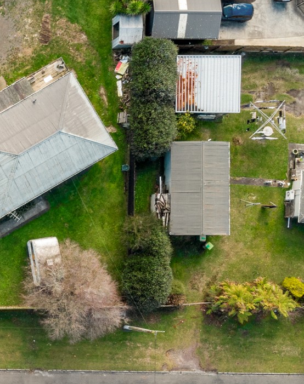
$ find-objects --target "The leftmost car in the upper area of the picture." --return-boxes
[221,3,259,25]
